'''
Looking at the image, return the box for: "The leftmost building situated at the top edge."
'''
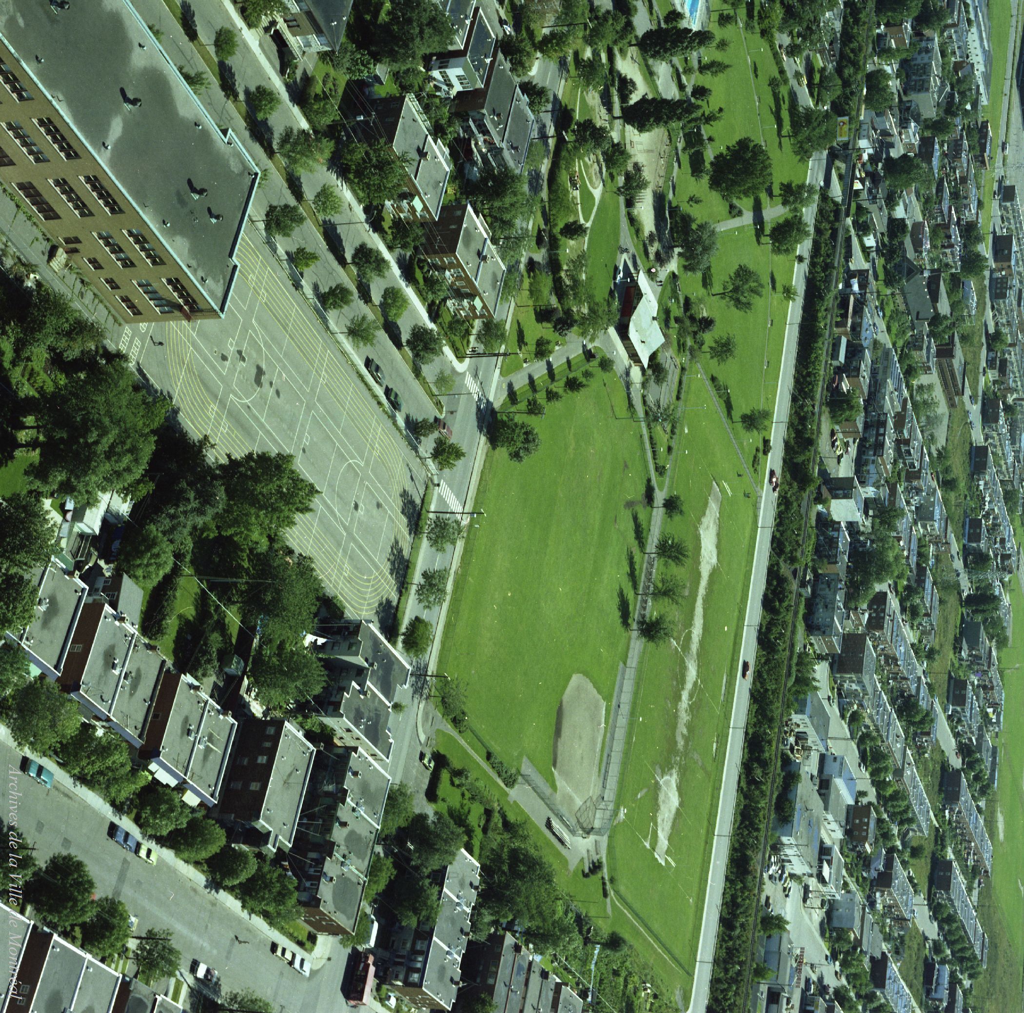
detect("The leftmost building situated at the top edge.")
[0,0,259,328]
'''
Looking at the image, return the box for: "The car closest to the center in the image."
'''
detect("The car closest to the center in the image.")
[439,416,455,442]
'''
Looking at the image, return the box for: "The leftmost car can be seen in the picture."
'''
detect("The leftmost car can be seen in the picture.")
[25,758,58,791]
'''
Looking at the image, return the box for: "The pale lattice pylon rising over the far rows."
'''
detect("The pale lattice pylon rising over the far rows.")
[954,566,1019,591]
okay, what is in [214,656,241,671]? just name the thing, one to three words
shed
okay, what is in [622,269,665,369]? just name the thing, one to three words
building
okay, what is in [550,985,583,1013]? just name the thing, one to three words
house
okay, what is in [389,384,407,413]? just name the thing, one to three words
car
